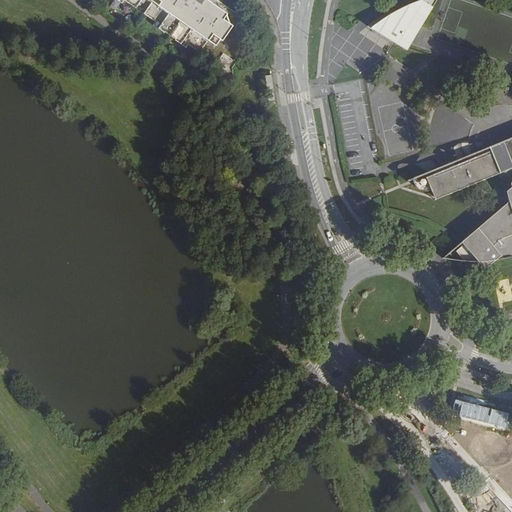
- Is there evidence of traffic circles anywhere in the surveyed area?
Yes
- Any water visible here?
Yes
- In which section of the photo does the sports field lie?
top right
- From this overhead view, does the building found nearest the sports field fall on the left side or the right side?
right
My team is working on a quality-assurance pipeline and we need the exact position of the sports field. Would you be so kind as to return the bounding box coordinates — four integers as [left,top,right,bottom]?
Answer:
[437,0,512,66]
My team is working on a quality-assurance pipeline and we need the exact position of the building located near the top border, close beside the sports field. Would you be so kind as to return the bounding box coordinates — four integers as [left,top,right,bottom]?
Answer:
[370,0,434,50]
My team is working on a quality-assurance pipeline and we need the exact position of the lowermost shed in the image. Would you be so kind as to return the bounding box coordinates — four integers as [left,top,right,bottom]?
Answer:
[454,400,509,430]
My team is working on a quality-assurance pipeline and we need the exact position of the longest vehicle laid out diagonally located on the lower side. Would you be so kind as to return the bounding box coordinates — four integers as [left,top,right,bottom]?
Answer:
[408,412,426,430]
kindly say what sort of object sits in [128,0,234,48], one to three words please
building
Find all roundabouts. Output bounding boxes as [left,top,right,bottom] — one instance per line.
[327,257,448,381]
